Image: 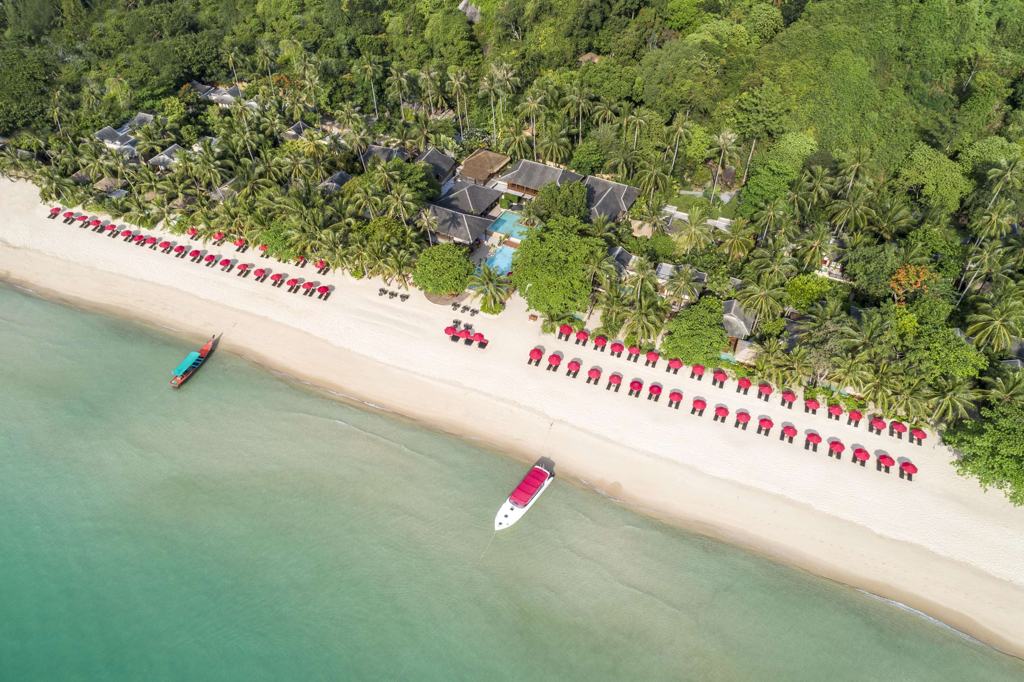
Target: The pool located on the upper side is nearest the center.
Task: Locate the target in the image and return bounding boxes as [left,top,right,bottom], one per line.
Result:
[472,246,520,293]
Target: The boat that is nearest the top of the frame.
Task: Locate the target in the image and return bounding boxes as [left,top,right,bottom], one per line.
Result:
[169,332,210,390]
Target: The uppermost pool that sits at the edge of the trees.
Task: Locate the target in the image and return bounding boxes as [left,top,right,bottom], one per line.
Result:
[486,210,547,245]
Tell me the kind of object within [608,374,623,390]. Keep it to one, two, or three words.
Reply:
umbrella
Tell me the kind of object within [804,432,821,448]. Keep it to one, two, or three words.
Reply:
umbrella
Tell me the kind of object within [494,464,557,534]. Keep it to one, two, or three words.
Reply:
boat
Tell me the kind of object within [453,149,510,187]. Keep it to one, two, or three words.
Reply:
building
